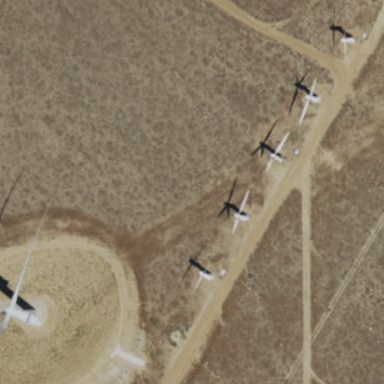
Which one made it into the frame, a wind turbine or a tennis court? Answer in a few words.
wind turbine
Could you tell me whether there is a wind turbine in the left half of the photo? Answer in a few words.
Yes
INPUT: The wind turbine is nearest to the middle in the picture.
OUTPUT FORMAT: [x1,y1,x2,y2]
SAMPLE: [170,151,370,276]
[230,190,252,234]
